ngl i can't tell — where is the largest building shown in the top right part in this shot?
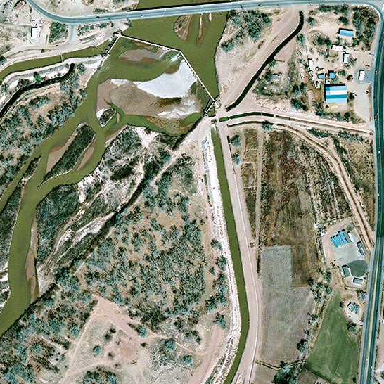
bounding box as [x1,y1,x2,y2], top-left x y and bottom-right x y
[326,84,347,103]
